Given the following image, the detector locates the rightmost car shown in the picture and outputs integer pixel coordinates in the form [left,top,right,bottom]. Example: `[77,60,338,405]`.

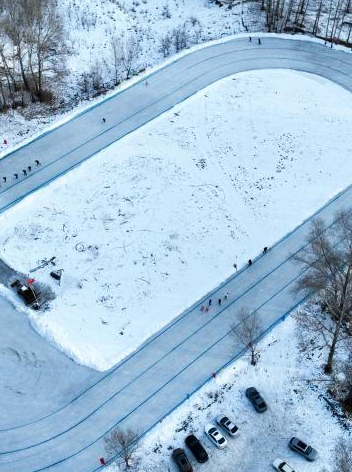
[289,435,319,463]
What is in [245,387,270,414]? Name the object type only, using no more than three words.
car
